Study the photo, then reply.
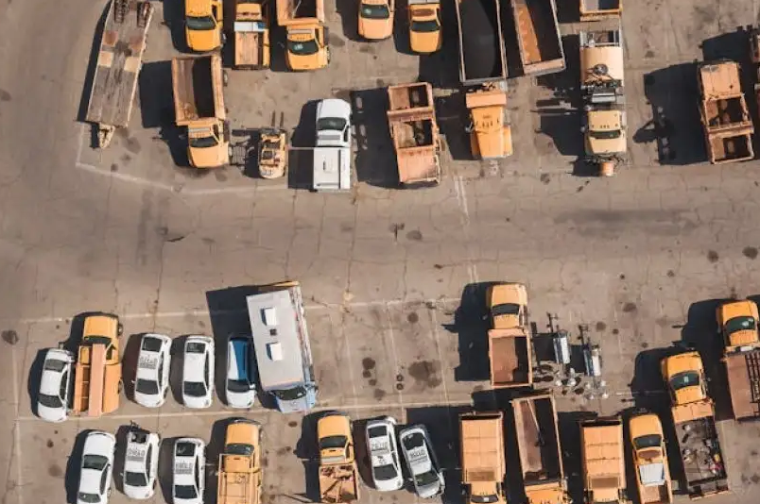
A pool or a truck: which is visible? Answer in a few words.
truck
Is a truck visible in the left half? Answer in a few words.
Yes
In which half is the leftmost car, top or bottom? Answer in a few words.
bottom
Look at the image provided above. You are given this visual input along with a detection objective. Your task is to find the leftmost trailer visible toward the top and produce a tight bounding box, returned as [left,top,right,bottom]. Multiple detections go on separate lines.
[88,0,155,150]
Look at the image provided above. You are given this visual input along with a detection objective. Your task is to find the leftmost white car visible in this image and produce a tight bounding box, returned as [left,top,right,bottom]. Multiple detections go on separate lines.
[33,347,80,422]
